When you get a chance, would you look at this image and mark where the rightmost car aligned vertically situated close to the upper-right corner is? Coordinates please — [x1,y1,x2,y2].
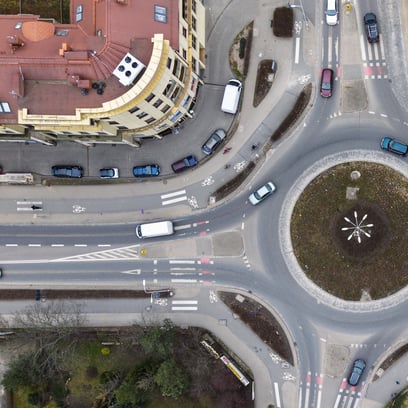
[363,11,379,41]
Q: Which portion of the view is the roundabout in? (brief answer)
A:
right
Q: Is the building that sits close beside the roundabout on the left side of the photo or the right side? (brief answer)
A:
left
